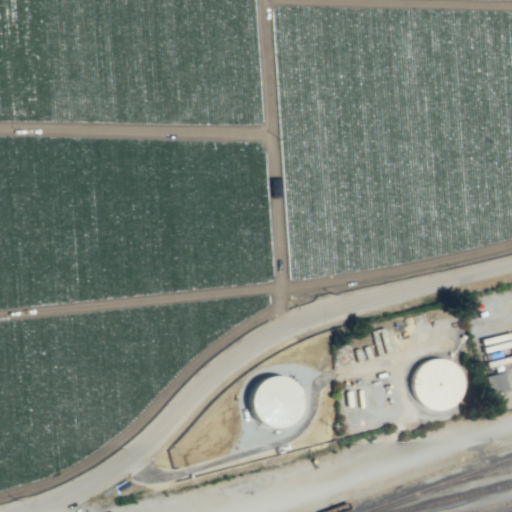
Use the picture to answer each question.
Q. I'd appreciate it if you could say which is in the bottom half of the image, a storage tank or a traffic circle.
storage tank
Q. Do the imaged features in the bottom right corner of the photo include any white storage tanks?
Yes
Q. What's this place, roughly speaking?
farmland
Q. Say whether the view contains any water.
No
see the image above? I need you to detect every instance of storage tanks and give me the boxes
[250,376,306,431]
[409,357,468,416]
